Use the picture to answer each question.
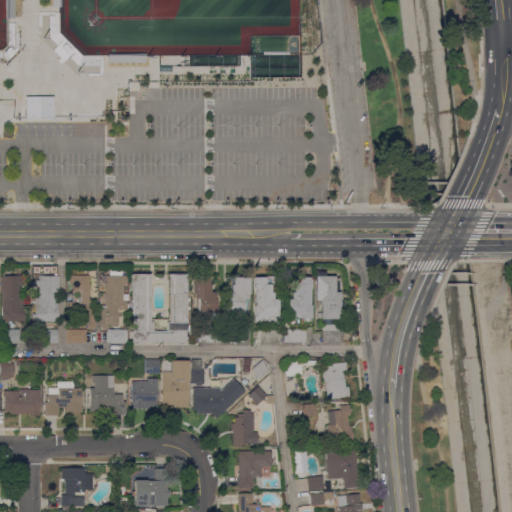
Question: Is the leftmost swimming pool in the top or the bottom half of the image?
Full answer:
The leftmost swimming pool sits in the bottom half of the picture.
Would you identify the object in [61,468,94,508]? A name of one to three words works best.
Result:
house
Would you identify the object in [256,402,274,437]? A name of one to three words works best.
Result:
swimming pool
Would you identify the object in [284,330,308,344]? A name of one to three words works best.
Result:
building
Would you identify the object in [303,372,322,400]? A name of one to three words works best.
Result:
swimming pool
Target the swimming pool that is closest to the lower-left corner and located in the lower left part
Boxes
[90,475,112,505]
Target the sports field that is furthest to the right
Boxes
[251,36,300,54]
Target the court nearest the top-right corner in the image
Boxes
[251,54,302,77]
